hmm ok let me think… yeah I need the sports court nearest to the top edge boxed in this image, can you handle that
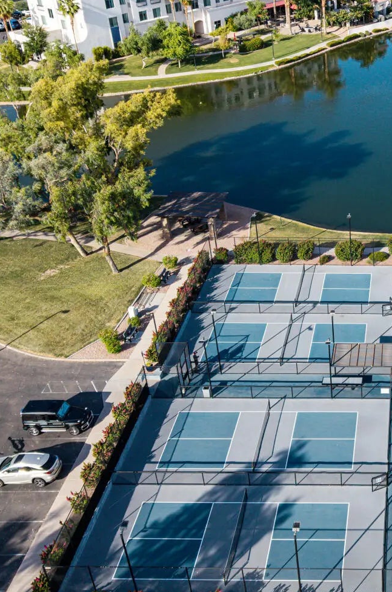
[225,273,372,305]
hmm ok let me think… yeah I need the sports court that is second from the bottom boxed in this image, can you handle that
[158,411,358,469]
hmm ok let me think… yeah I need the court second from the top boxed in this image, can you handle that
[201,322,367,362]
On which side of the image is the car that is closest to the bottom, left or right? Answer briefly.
left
